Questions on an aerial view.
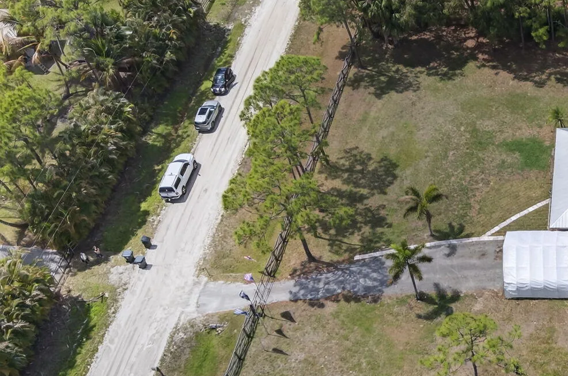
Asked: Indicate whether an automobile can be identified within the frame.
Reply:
Yes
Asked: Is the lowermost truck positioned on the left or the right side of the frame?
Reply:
left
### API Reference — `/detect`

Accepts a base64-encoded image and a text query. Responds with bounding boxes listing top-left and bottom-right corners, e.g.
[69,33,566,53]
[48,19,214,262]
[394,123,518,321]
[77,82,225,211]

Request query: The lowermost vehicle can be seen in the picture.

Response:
[159,158,197,204]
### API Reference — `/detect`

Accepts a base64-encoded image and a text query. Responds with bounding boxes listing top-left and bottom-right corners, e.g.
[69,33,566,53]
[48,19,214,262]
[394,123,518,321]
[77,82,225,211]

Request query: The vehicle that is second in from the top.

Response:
[195,103,225,134]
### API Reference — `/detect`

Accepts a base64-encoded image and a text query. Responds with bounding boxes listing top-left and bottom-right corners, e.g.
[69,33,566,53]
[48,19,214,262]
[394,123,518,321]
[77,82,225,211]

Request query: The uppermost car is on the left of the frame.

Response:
[211,69,237,97]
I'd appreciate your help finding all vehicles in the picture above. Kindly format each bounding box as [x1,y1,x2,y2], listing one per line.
[159,158,197,204]
[195,103,225,134]
[211,69,237,97]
